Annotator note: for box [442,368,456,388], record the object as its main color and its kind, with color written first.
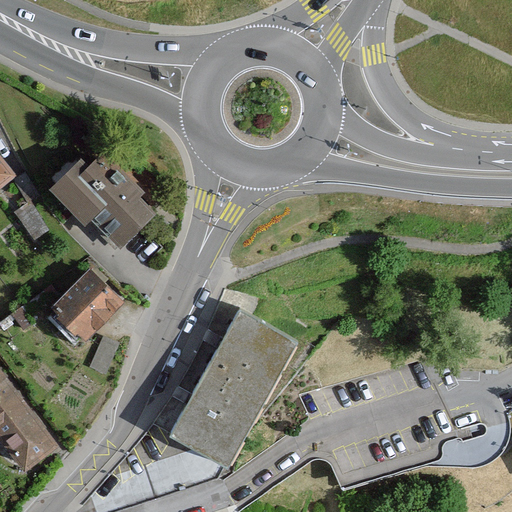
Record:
white vehicle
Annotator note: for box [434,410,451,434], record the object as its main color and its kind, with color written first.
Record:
white car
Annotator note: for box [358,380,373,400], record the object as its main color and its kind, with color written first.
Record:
white car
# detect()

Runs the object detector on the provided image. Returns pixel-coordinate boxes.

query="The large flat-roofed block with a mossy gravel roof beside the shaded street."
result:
[171,310,297,466]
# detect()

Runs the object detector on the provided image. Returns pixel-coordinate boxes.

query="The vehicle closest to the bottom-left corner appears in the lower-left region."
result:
[98,474,119,496]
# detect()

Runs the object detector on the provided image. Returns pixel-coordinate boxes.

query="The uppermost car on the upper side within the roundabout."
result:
[246,48,267,60]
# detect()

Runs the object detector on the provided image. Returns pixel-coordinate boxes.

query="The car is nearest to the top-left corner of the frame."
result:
[17,8,35,22]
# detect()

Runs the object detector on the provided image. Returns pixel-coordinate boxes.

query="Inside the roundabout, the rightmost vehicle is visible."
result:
[297,72,317,89]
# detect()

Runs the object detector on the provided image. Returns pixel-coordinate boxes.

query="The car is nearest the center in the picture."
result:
[196,288,210,308]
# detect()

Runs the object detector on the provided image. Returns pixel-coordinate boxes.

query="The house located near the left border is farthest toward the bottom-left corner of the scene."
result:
[0,366,59,472]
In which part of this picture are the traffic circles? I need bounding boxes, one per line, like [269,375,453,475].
[179,24,346,190]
